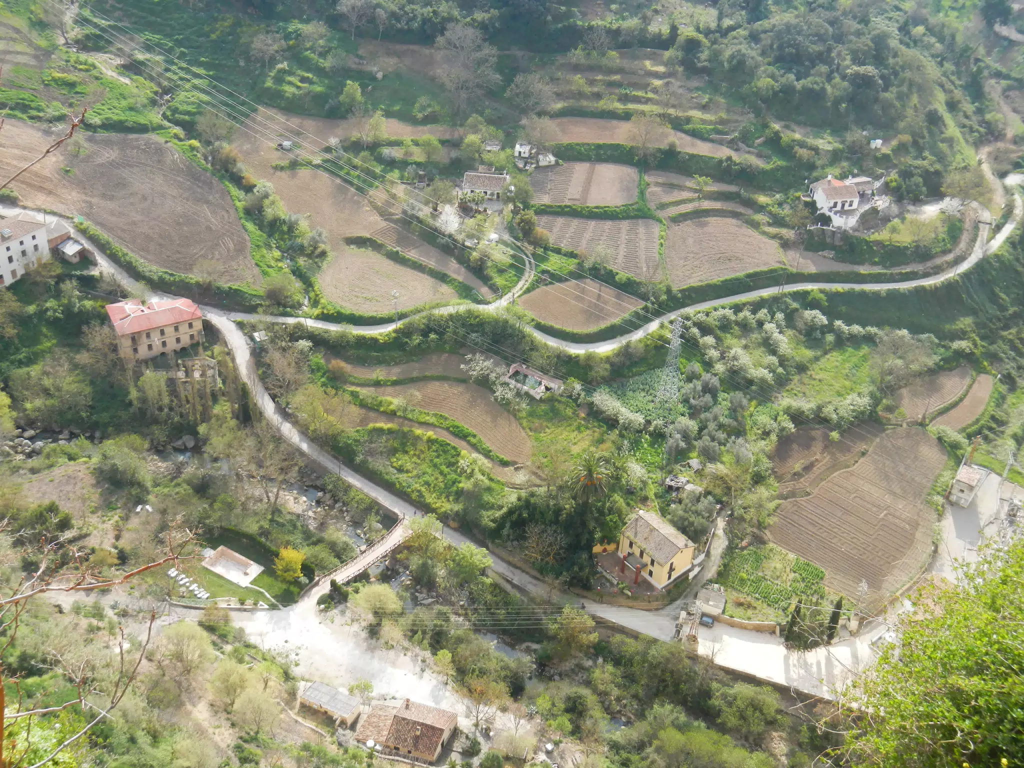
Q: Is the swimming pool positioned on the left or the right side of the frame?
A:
left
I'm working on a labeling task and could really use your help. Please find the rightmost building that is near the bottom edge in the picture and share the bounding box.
[354,697,457,767]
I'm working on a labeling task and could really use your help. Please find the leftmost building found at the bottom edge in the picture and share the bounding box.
[297,677,363,737]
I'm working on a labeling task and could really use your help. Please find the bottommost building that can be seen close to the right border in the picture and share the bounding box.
[948,462,993,513]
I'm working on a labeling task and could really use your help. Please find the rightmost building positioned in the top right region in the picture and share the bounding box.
[804,169,870,212]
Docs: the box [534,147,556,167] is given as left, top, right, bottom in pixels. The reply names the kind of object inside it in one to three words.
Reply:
shed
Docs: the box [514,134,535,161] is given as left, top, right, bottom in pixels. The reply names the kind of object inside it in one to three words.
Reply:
shed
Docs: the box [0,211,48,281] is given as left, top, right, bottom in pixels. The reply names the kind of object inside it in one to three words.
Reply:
house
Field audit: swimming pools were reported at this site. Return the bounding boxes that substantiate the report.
[202,544,266,588]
